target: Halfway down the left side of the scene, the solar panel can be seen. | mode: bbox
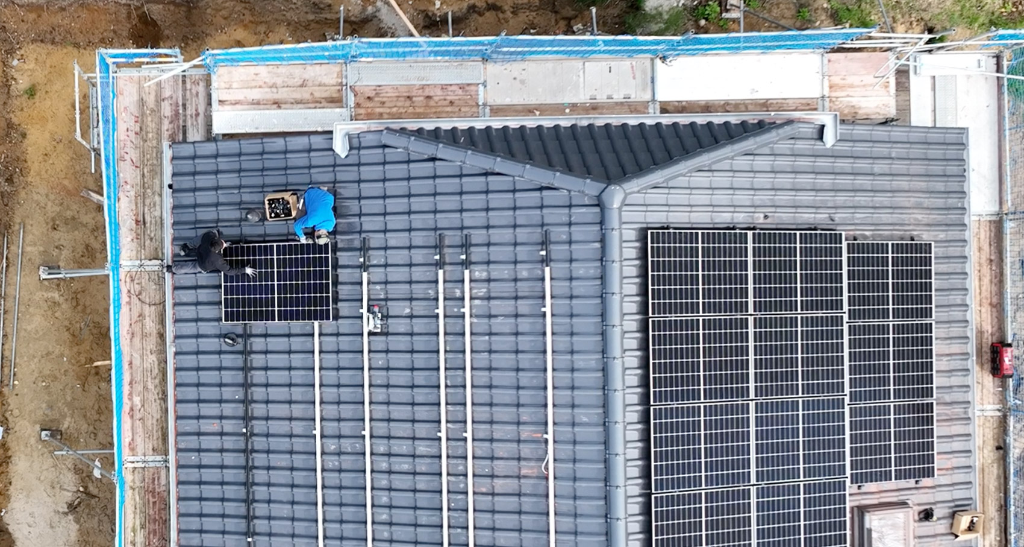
[220,240,333,324]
